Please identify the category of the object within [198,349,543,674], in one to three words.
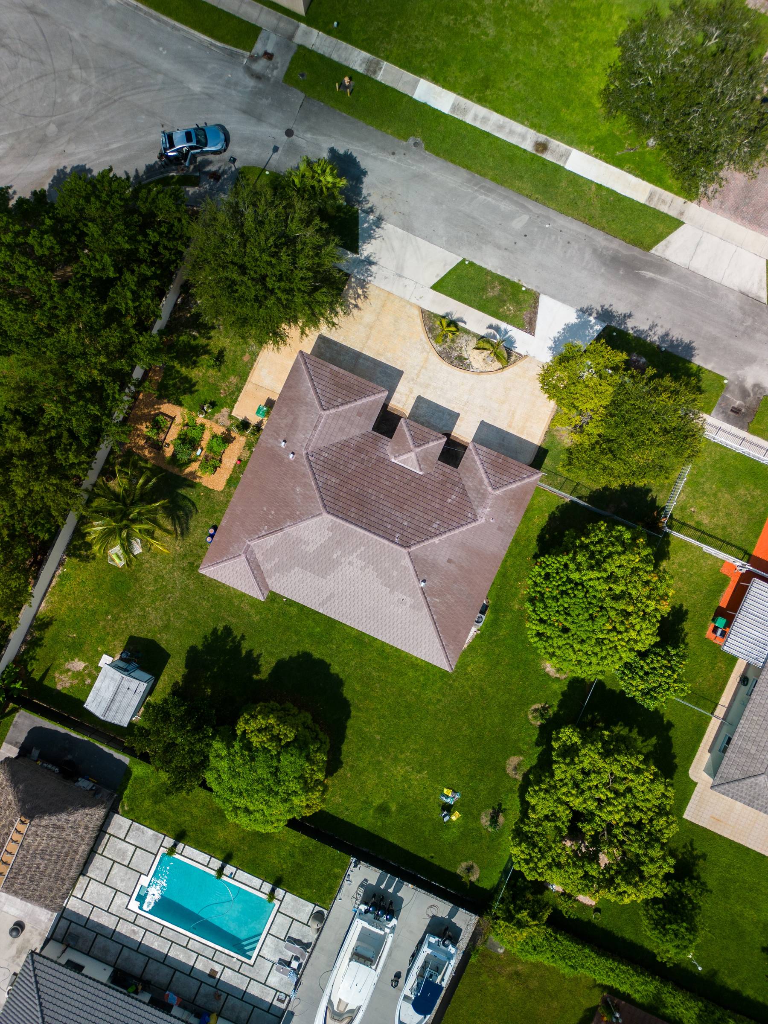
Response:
house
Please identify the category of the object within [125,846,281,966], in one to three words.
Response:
swimming pool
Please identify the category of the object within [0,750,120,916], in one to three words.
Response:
shed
